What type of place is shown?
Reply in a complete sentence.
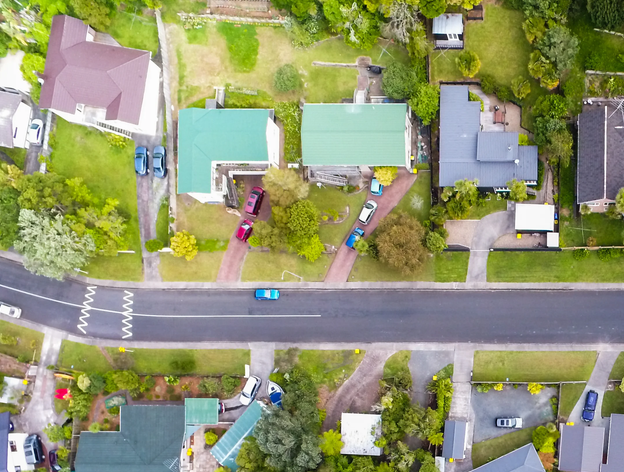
What you see here is a residential area.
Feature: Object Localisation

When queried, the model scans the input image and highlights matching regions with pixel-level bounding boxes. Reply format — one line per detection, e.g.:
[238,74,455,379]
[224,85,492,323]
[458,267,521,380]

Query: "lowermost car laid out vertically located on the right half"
[583,392,597,420]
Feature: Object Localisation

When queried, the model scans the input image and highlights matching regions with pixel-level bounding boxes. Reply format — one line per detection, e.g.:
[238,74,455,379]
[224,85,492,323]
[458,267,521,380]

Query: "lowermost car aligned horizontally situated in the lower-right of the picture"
[495,417,523,429]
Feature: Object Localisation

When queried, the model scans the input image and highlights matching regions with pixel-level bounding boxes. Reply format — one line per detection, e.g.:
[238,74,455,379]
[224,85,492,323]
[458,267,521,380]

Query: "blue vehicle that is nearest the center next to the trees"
[345,225,365,250]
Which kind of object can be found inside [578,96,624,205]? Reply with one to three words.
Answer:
house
